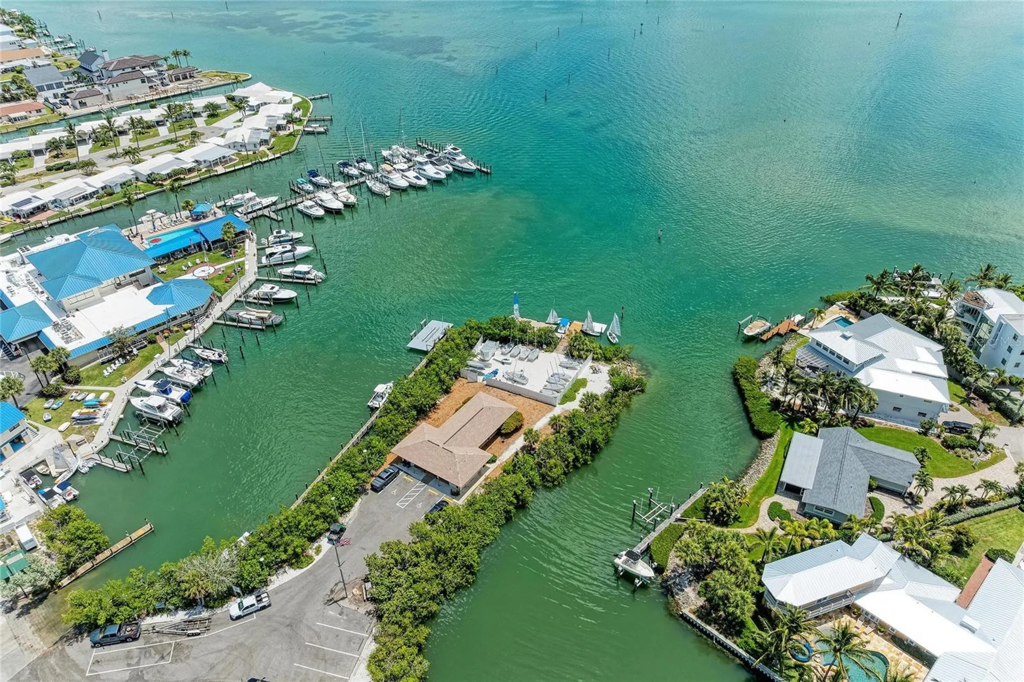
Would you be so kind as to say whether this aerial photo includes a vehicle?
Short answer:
Yes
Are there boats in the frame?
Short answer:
Yes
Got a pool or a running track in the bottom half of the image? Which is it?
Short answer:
pool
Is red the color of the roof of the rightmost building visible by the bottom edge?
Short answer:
No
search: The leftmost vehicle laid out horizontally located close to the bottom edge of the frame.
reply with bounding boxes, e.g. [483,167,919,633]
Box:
[86,620,143,649]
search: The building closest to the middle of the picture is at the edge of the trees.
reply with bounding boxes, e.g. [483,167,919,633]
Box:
[390,392,517,497]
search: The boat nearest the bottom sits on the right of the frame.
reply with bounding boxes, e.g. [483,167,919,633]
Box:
[608,554,654,580]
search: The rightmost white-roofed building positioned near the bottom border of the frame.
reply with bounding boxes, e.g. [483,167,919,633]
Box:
[763,533,1024,682]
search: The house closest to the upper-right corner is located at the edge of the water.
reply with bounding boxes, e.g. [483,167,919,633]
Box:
[948,287,1024,380]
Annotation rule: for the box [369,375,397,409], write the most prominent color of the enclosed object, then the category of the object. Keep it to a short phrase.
white boat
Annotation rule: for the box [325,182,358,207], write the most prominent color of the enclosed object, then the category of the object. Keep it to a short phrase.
white boat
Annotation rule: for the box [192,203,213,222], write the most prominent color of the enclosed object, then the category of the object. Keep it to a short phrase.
blue gazebo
